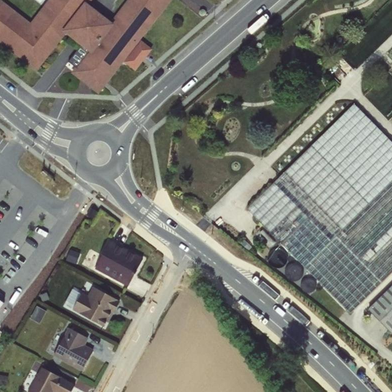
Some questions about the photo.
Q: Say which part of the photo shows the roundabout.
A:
left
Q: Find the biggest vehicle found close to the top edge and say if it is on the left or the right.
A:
right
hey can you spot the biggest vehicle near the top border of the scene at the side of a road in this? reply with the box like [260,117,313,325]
[246,14,268,34]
